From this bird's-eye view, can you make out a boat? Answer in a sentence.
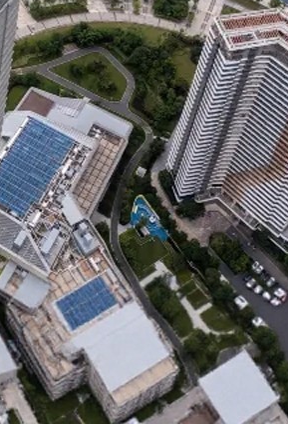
No, the photo shows no boat.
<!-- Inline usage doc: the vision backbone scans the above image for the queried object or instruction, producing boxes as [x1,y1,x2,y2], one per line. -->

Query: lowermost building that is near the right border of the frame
[196,350,279,424]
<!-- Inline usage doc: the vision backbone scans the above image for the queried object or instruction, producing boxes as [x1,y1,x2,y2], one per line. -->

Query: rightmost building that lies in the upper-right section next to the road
[167,2,288,224]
